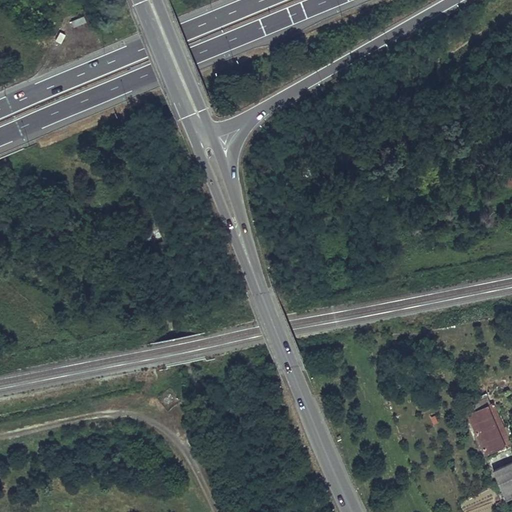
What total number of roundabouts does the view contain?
0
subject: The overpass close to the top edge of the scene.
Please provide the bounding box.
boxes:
[127,0,210,114]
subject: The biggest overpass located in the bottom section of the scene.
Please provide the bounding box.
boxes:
[248,291,305,366]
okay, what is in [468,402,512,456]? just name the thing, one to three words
house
